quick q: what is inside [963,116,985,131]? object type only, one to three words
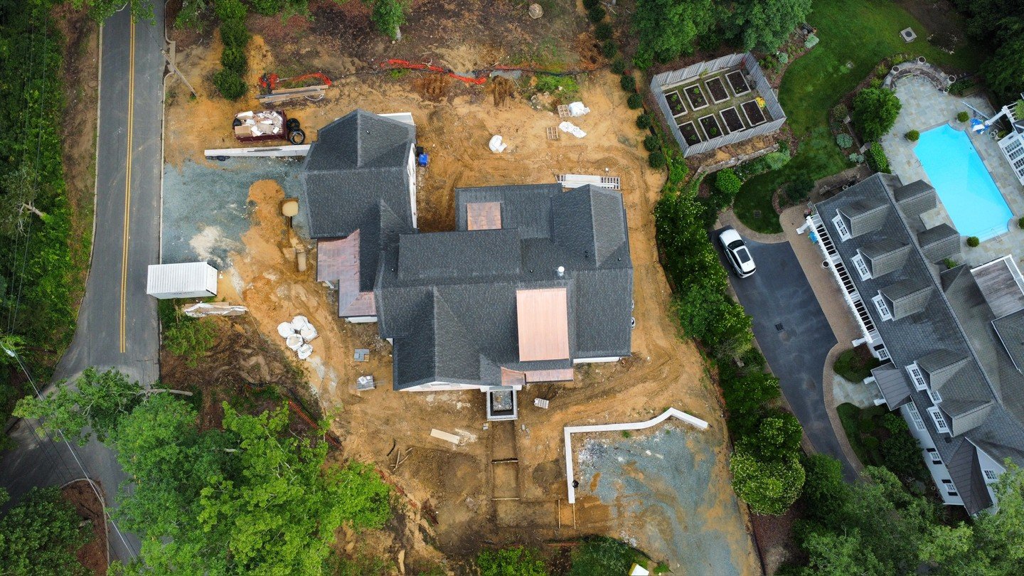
umbrella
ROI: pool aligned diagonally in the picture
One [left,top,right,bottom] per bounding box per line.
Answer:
[910,121,1017,247]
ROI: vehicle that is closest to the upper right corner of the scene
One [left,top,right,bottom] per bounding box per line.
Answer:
[720,229,756,277]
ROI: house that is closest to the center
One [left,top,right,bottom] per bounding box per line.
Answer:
[298,106,636,392]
